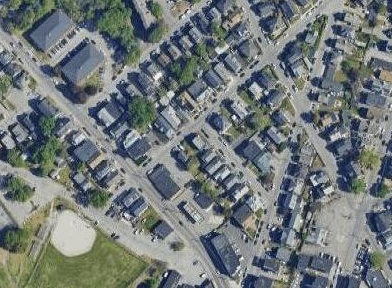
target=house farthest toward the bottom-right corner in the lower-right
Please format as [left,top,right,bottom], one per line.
[366,267,390,288]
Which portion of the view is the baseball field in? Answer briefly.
bottom left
